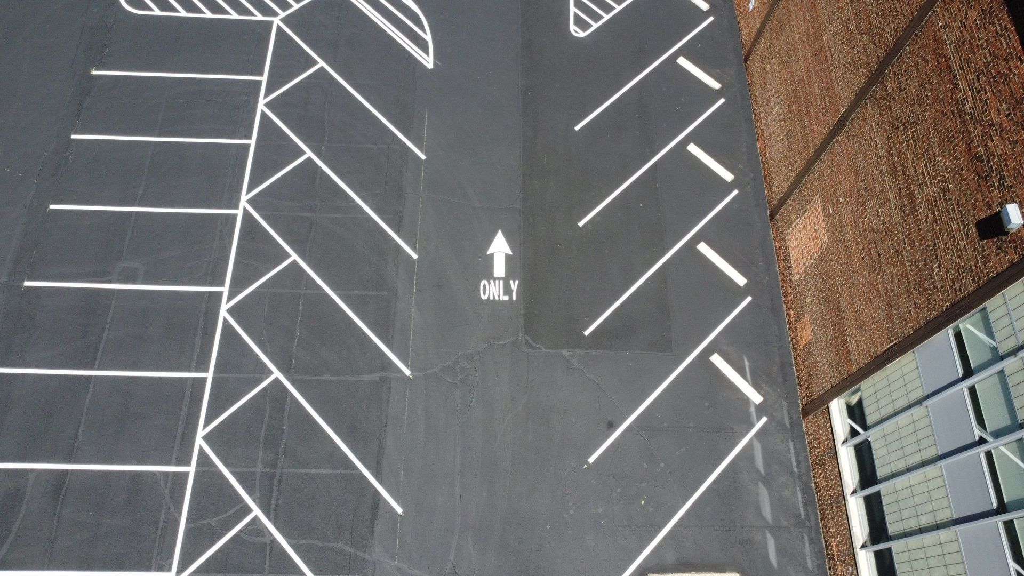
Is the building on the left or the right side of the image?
right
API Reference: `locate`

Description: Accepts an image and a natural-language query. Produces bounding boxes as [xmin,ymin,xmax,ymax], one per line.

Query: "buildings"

[735,0,1024,576]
